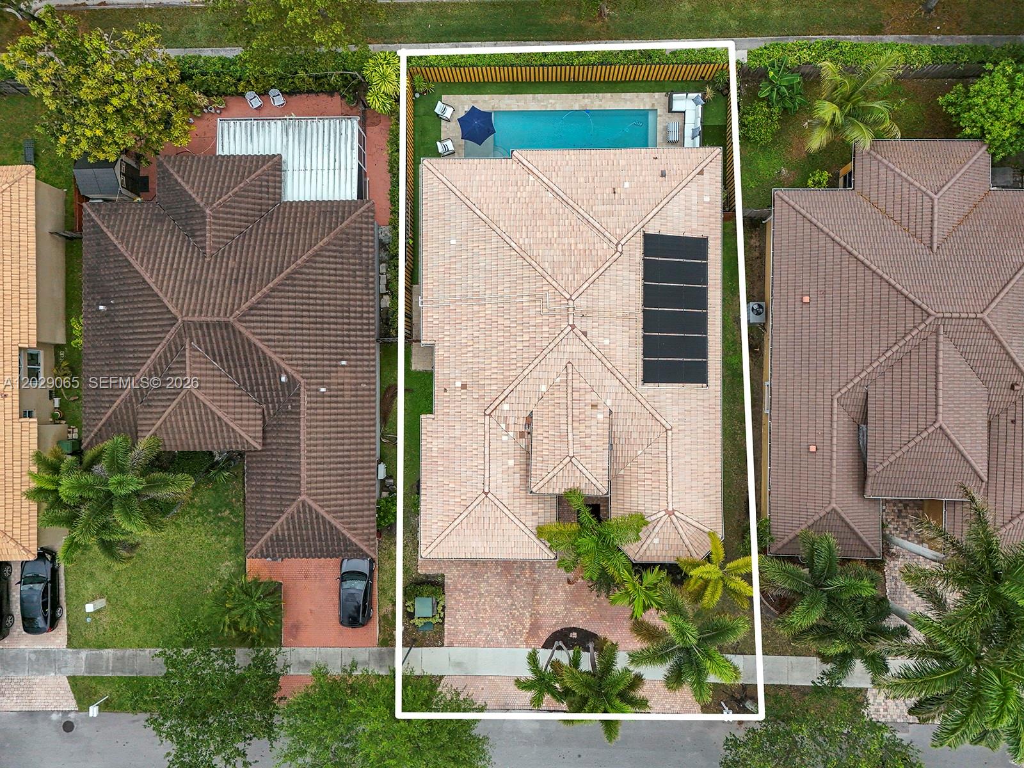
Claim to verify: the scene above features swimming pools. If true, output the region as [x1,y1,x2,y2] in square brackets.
[462,106,660,157]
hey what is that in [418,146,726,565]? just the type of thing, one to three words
house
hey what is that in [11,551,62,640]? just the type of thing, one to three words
car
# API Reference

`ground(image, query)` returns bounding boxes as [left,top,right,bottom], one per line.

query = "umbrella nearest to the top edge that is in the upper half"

[457,106,496,146]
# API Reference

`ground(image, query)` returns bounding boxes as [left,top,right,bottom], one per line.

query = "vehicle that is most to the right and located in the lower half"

[330,559,372,637]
